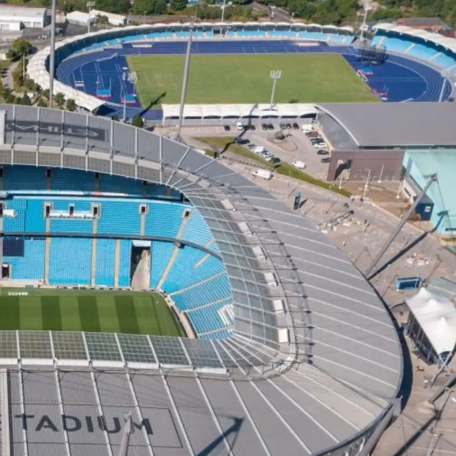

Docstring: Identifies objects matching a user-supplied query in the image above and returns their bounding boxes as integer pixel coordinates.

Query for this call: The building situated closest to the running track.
[312,100,456,148]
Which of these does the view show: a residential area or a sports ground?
sports ground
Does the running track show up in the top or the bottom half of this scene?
top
